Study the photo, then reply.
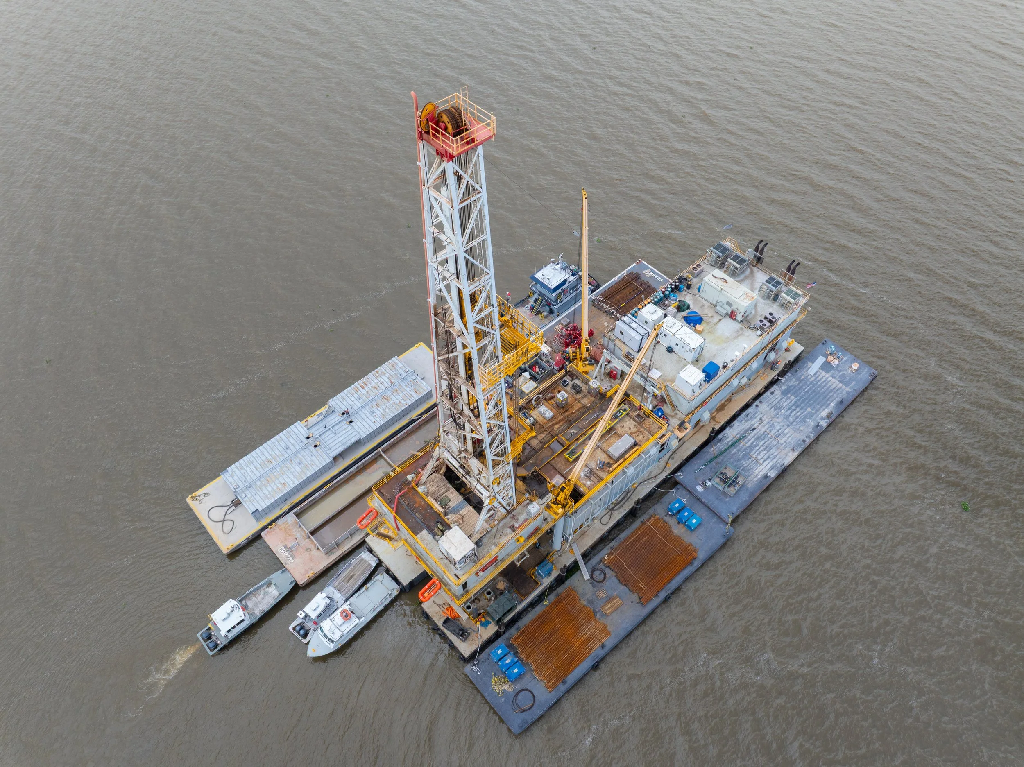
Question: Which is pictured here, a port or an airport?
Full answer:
The picture captures a port.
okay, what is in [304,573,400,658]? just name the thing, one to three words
boat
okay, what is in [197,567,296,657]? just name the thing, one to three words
boat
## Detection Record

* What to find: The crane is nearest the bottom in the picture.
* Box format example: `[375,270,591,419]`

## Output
[540,321,664,552]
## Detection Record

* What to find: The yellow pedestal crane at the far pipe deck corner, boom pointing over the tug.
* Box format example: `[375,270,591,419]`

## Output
[569,184,601,368]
